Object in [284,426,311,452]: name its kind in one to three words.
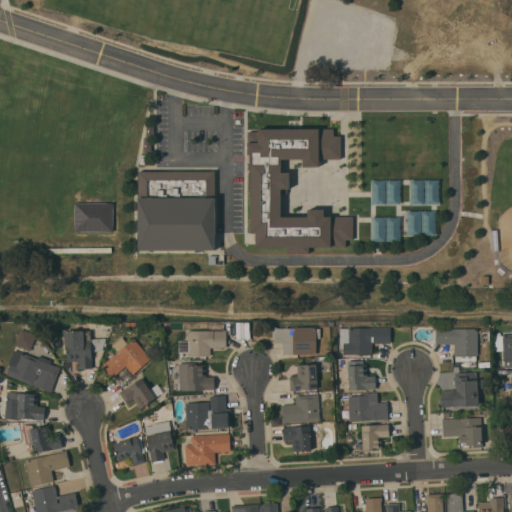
house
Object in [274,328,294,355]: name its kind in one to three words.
building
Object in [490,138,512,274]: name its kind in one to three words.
baseball field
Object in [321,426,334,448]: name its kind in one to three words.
swimming pool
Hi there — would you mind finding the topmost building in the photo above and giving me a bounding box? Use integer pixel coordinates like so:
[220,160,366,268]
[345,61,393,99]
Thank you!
[322,129,342,159]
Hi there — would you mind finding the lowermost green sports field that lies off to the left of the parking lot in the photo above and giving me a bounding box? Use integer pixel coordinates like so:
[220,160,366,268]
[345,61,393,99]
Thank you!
[0,39,154,252]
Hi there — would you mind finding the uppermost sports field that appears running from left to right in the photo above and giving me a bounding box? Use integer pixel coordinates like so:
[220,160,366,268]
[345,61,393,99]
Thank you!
[44,0,296,65]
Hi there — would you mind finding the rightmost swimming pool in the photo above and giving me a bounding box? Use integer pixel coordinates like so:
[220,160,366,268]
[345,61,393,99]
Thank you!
[414,328,435,342]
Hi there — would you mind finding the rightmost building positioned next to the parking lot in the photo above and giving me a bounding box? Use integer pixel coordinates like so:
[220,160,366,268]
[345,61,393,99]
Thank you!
[247,129,331,254]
